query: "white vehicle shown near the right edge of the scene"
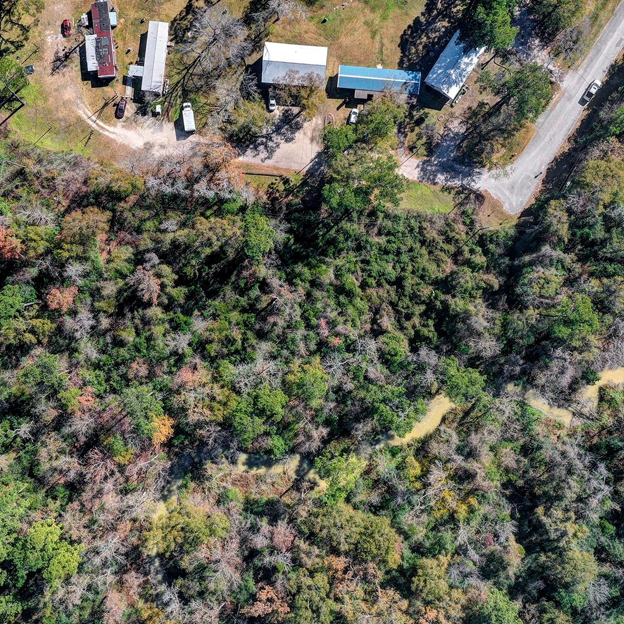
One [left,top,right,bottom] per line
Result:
[585,77,603,102]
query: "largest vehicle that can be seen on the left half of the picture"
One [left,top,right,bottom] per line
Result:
[181,103,195,133]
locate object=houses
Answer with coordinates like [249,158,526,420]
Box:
[85,0,117,78]
[128,20,169,94]
[261,41,328,89]
[337,65,421,100]
[425,25,490,101]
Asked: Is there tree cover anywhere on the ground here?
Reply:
Yes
